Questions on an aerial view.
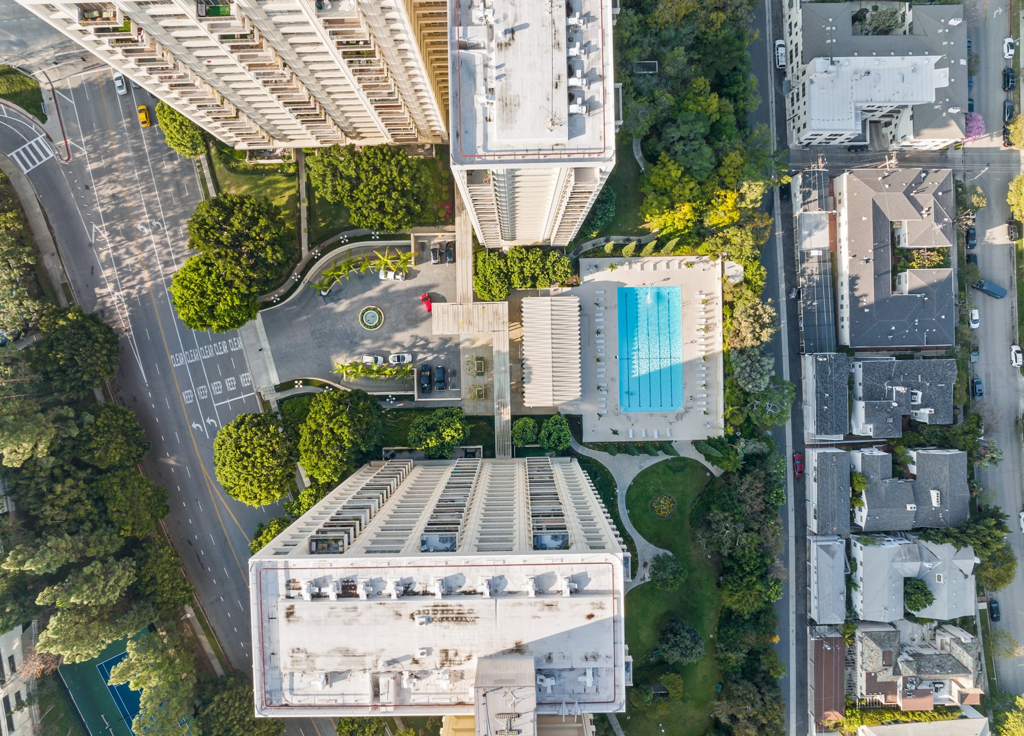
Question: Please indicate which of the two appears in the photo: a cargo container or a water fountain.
water fountain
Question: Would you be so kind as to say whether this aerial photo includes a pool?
Yes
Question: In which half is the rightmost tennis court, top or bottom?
bottom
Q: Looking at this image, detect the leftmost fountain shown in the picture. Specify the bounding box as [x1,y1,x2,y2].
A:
[358,305,384,331]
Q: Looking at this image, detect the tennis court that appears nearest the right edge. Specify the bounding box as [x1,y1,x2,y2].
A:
[96,647,188,736]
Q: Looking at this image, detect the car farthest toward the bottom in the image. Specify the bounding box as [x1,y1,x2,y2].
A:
[987,598,1000,622]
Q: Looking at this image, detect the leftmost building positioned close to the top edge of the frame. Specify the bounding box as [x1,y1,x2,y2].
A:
[31,0,626,253]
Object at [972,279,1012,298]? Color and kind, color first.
blue vehicle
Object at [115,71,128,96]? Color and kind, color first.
white vehicle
